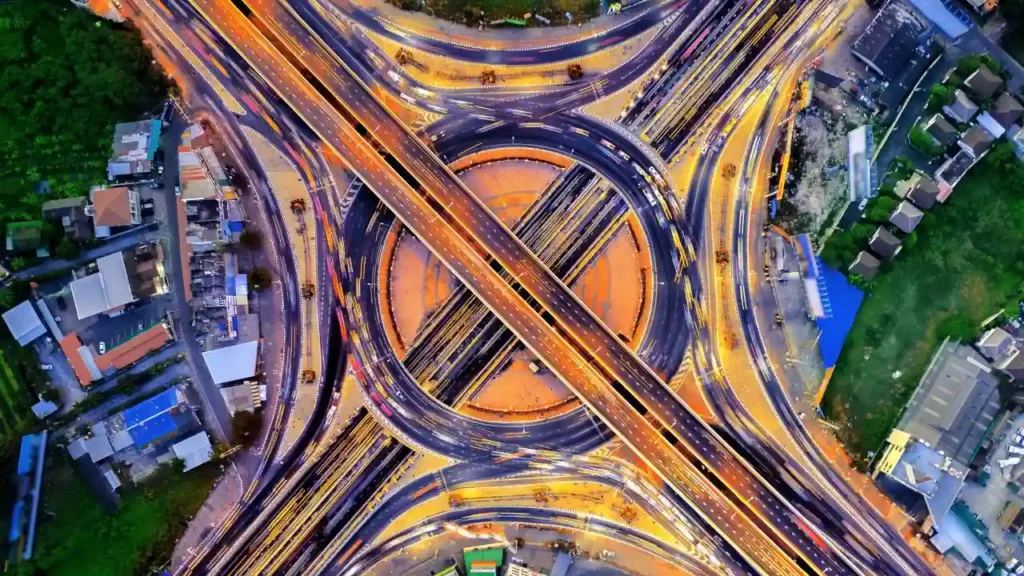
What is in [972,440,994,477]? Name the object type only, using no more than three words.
shed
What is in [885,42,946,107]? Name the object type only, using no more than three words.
shed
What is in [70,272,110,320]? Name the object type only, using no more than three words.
building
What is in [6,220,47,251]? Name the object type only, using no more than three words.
house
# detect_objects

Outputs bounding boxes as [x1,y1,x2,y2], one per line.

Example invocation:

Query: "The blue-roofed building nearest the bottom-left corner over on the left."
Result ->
[9,497,30,541]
